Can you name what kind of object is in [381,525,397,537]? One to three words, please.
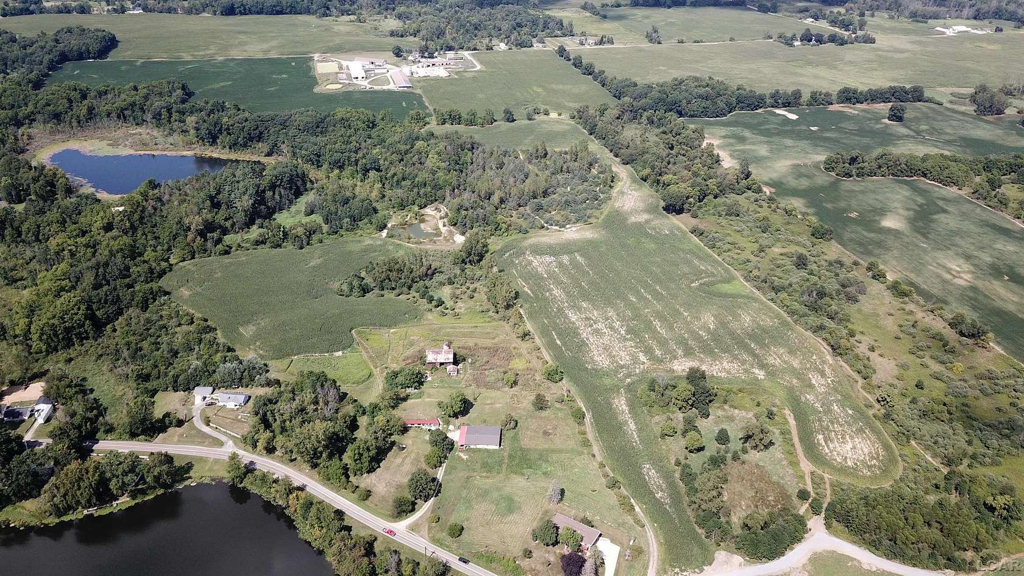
vehicle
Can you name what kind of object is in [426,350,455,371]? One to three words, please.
barn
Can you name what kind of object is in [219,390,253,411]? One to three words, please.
house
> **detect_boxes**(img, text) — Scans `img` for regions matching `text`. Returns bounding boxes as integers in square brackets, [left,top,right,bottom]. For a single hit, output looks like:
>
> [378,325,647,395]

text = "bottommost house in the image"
[547,511,601,557]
